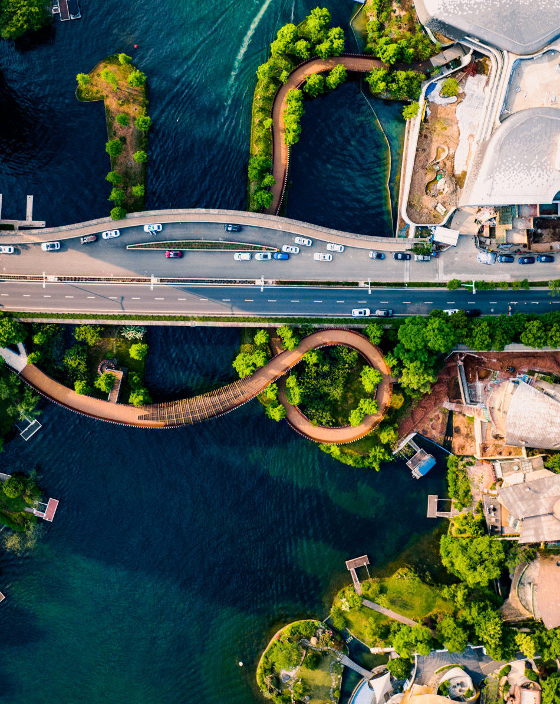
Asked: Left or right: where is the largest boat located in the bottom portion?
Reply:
right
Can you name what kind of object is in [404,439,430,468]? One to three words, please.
pier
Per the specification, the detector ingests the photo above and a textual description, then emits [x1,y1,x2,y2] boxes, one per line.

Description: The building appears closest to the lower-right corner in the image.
[498,675,541,704]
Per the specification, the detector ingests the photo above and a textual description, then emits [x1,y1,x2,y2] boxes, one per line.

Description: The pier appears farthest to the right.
[427,494,453,520]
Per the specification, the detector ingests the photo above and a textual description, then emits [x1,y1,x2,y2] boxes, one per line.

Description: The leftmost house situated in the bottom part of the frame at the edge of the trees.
[395,659,483,704]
